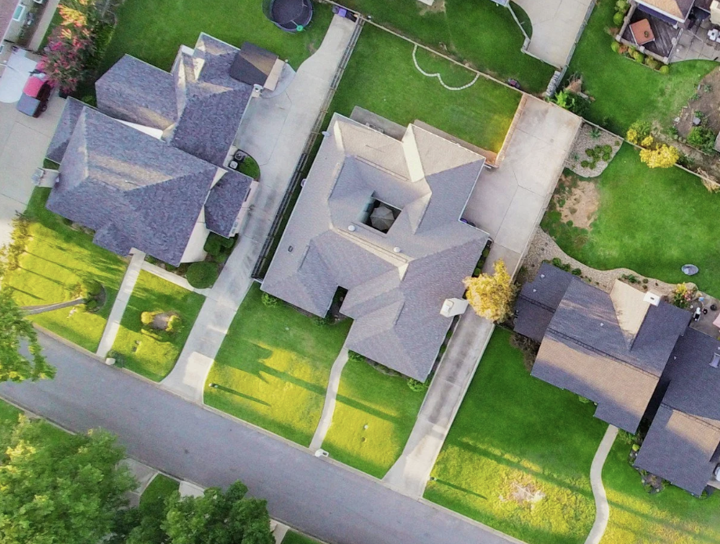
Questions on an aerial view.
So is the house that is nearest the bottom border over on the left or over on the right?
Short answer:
right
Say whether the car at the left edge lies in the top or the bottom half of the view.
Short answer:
top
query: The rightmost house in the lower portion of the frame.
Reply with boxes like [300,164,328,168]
[512,261,720,497]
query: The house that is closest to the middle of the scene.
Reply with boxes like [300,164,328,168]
[260,113,490,382]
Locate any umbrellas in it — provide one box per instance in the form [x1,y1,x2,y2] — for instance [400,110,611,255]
[629,19,656,47]
[713,308,720,332]
[368,204,397,231]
